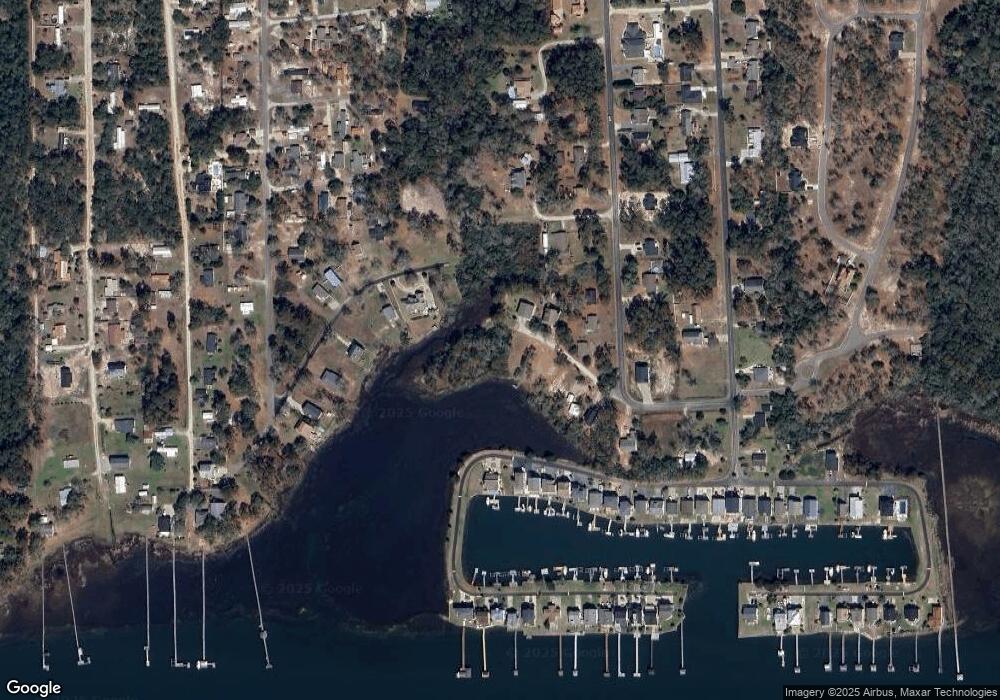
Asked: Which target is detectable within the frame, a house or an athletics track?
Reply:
house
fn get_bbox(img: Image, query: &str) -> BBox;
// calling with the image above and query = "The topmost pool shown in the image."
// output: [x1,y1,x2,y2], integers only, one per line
[648,38,664,62]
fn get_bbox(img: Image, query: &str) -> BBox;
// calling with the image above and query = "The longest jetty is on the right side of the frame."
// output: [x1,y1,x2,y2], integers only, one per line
[937,405,964,680]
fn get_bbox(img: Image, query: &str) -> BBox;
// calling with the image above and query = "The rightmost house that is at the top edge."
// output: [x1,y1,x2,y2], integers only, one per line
[889,32,904,56]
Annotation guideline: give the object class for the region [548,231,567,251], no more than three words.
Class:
house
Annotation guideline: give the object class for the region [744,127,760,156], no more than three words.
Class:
building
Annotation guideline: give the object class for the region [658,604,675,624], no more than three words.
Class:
house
